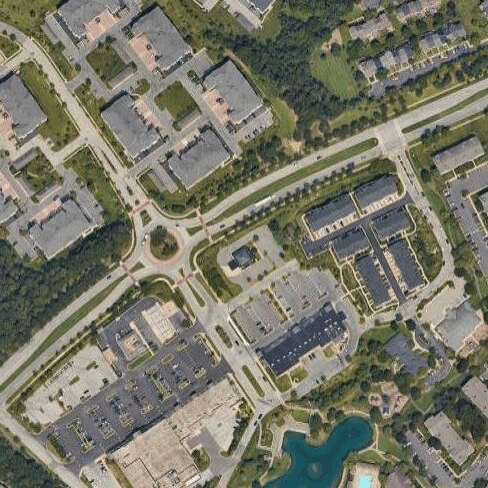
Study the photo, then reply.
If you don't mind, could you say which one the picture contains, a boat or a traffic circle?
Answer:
traffic circle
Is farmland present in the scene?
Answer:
No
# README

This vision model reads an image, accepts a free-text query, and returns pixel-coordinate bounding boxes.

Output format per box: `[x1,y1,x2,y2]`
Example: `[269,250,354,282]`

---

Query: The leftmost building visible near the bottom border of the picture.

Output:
[105,419,201,488]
